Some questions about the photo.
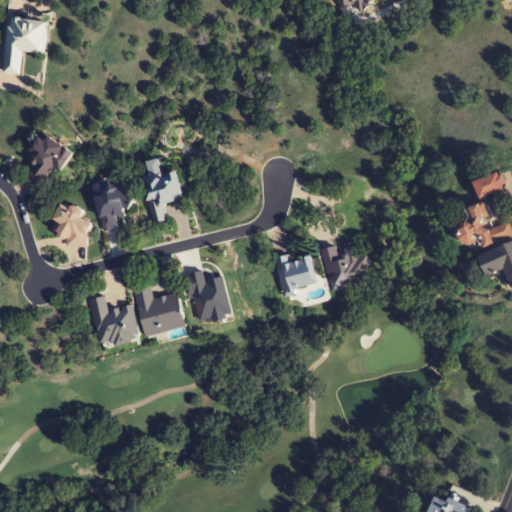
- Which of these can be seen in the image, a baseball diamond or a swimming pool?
swimming pool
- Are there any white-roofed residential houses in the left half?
Yes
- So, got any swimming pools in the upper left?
No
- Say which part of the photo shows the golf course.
bottom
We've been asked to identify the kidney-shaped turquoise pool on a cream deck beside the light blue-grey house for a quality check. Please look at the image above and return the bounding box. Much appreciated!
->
[288,270,332,307]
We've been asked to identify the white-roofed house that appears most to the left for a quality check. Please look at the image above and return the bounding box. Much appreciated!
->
[5,18,50,77]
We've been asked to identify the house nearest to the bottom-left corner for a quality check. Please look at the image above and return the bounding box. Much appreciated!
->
[88,295,140,347]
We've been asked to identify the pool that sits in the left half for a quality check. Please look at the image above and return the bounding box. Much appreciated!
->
[167,326,188,342]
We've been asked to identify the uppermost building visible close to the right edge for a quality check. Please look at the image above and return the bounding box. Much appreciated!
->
[472,170,508,197]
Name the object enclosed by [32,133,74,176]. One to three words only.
house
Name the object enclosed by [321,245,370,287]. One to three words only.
house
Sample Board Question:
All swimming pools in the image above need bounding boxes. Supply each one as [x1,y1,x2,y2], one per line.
[167,326,188,342]
[288,270,332,307]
